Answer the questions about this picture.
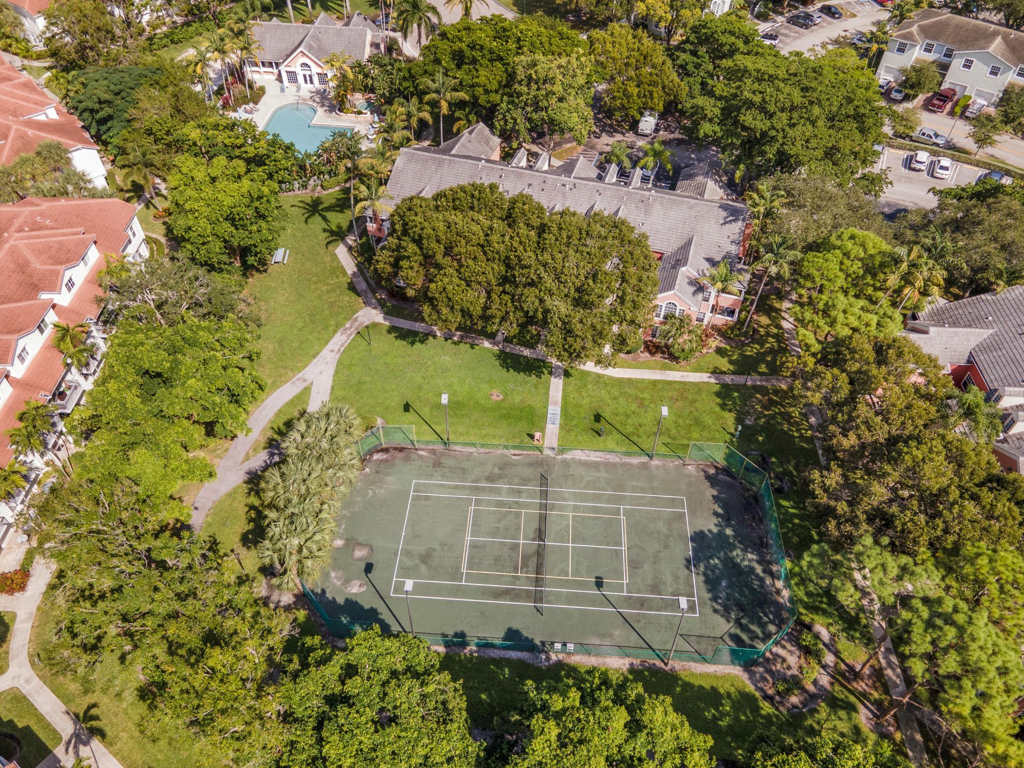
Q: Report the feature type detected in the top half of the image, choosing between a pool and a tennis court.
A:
pool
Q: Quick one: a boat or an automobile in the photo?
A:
automobile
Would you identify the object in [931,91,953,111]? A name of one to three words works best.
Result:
vehicle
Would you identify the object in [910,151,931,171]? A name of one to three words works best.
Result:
car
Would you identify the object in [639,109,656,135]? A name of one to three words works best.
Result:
vehicle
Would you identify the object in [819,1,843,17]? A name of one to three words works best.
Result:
car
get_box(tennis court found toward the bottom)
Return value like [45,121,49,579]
[306,445,786,668]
